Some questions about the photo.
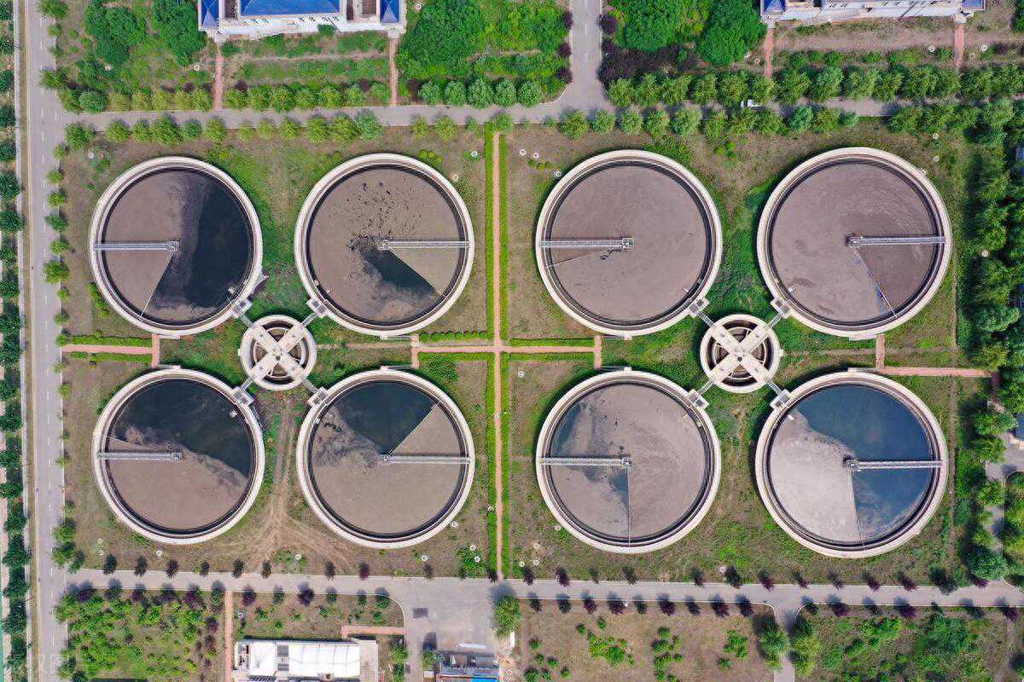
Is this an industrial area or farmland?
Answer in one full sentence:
The picture captures an industrial area.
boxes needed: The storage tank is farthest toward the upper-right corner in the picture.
[753,148,952,343]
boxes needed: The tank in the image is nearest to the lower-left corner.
[92,362,270,544]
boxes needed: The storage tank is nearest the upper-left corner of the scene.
[88,156,268,341]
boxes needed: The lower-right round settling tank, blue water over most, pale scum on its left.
[751,365,947,558]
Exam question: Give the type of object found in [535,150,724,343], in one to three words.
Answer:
storage tank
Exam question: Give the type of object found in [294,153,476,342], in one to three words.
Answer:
storage tank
